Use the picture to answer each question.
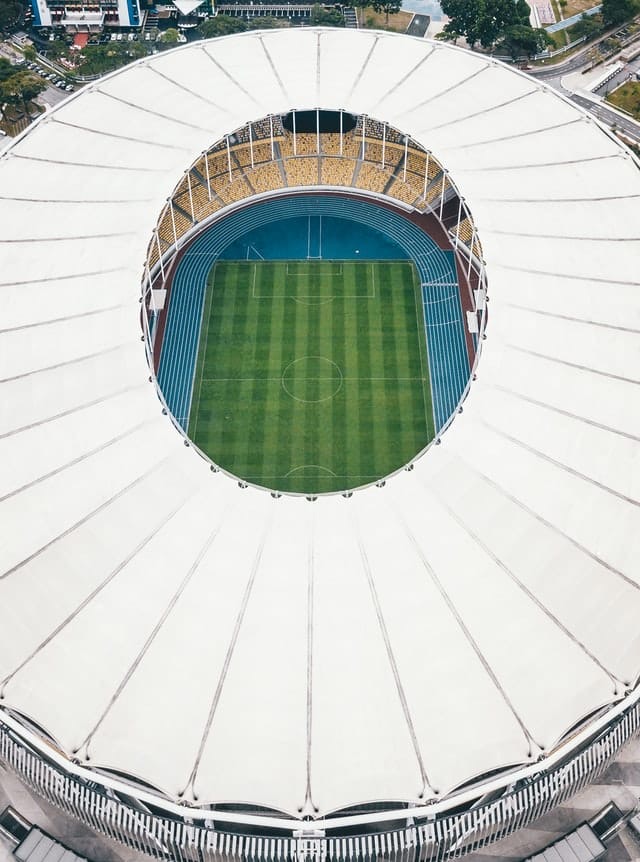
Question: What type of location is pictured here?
sports ground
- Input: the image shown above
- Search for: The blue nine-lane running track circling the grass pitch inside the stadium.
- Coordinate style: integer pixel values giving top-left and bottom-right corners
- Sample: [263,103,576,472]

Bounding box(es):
[142,195,485,449]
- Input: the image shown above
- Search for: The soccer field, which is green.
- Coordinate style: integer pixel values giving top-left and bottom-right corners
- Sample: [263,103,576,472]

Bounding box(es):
[186,257,437,504]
